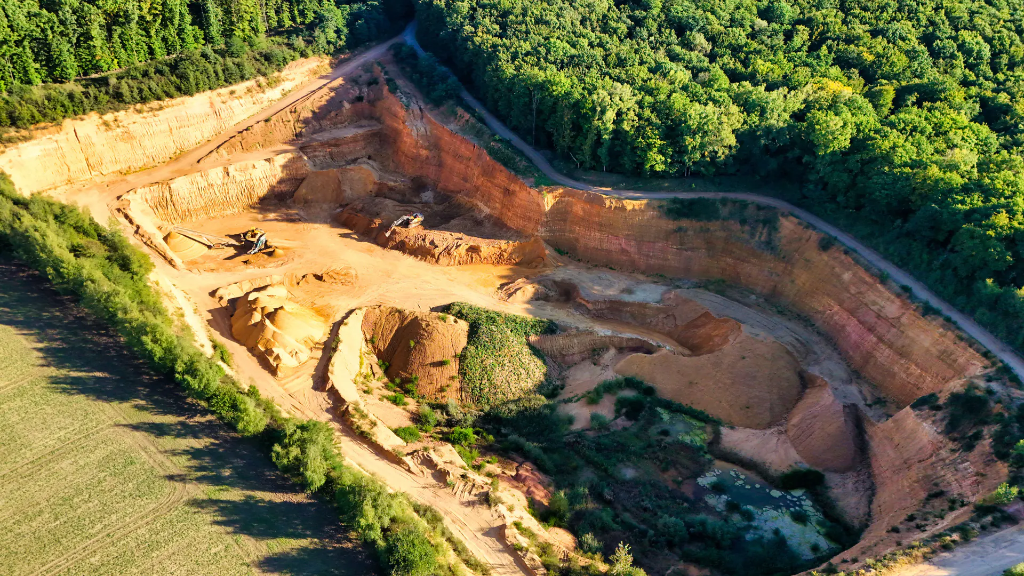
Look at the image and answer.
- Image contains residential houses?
No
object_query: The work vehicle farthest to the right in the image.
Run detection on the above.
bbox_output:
[386,211,421,230]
